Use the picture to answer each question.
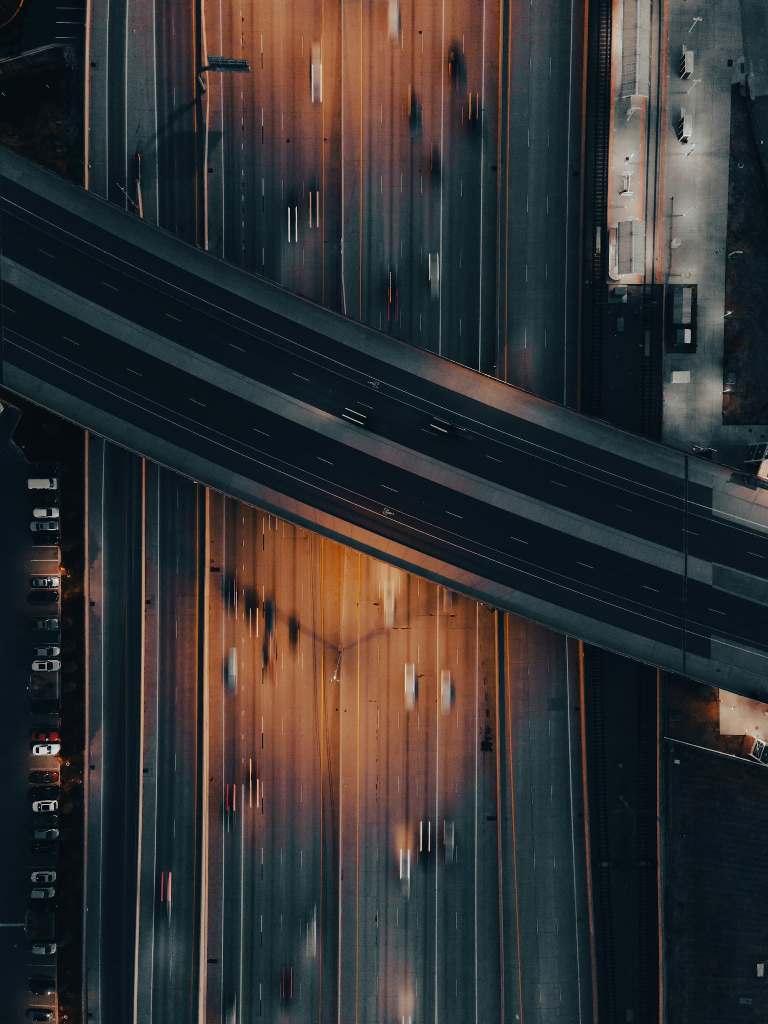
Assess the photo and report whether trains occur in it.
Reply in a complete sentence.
No, there's no train here.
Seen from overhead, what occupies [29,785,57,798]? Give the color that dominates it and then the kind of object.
black vehicle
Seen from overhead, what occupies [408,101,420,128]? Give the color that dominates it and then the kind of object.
black vehicle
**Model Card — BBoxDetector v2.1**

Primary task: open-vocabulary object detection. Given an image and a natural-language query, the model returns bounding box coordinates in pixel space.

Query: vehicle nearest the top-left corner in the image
[310,72,323,100]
